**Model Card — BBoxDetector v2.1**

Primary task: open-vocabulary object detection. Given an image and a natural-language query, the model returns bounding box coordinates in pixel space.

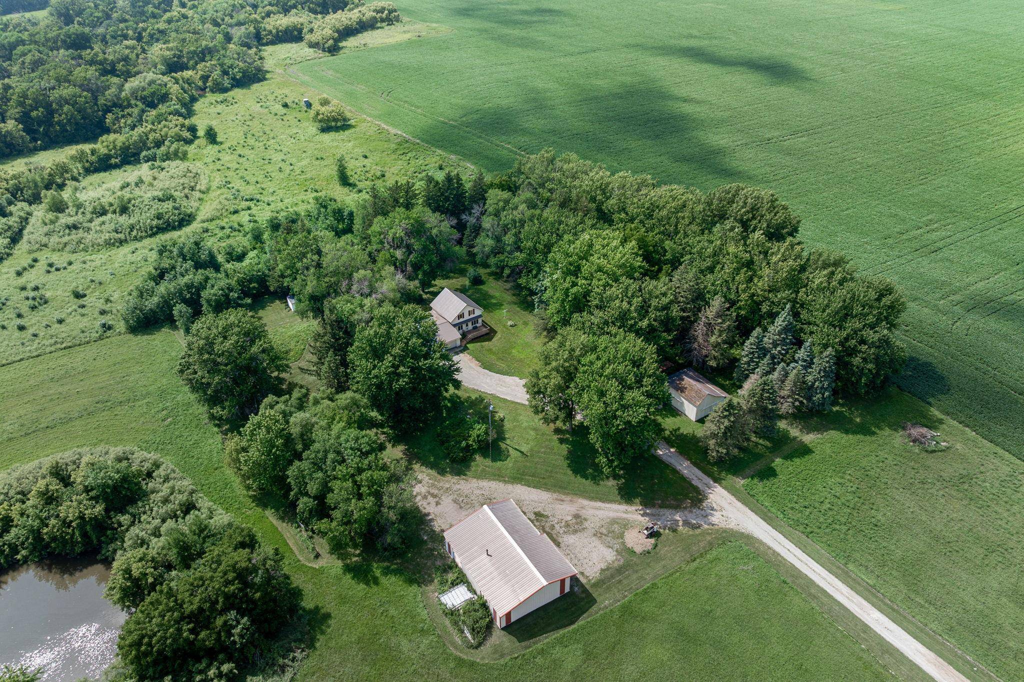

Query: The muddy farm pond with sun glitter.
[0,545,149,682]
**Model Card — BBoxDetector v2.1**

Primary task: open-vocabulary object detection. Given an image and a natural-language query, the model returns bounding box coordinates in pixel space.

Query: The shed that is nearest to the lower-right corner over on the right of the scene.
[665,372,726,421]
